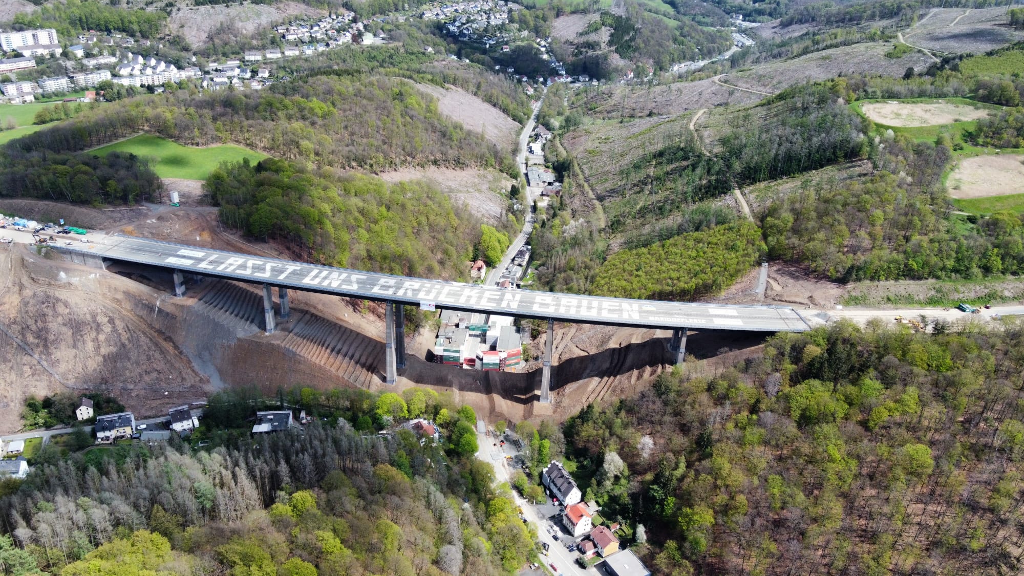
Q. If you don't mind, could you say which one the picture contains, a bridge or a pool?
bridge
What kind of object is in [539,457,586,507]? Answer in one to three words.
house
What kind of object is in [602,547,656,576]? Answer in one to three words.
building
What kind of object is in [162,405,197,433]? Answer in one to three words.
house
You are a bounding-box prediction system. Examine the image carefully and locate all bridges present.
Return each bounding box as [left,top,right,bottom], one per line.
[53,233,816,409]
